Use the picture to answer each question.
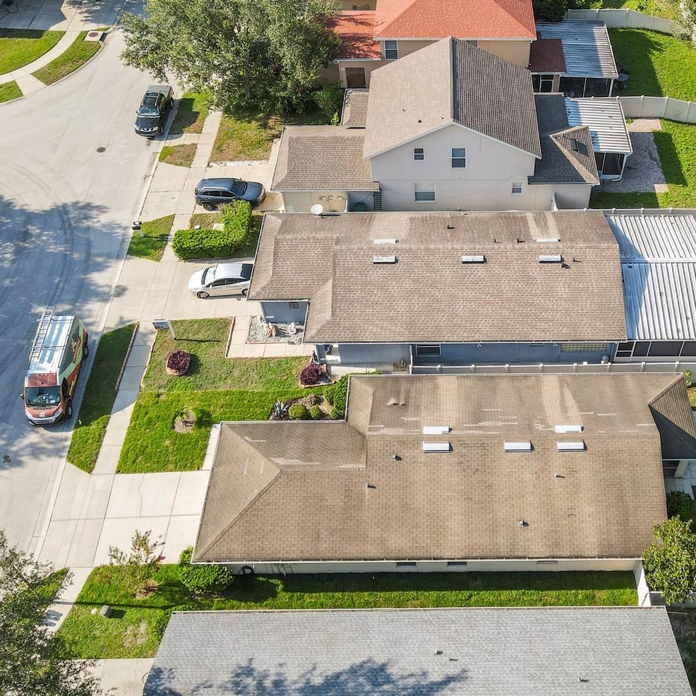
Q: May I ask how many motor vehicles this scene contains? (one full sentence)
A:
The picture shows 4 motor vehicles.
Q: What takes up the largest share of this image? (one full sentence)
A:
What you mostly see from above here is buildings.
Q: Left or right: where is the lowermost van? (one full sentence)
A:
The lowermost van sits on the left side.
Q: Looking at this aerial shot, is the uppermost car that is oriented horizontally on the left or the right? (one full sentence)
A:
It is on the left.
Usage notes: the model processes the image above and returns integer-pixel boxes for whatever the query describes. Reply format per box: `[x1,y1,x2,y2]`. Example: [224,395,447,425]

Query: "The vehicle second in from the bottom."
[189,263,251,298]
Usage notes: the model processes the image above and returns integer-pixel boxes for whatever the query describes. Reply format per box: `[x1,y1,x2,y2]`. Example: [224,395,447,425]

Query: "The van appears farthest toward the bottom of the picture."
[17,317,92,432]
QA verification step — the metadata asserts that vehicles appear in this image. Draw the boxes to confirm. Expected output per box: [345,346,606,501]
[131,85,172,140]
[193,173,270,210]
[189,263,251,298]
[17,317,92,432]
